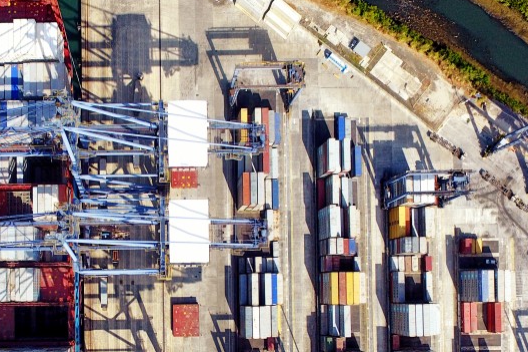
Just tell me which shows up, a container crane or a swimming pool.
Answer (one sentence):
Visible in the photo is a container crane.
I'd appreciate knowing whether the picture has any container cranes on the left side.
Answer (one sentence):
Yes, looking on the left side, one can make out a container crane.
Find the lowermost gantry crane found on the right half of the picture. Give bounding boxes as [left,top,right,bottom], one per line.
[381,167,480,210]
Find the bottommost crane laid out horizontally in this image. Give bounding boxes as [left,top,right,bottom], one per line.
[0,192,268,284]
